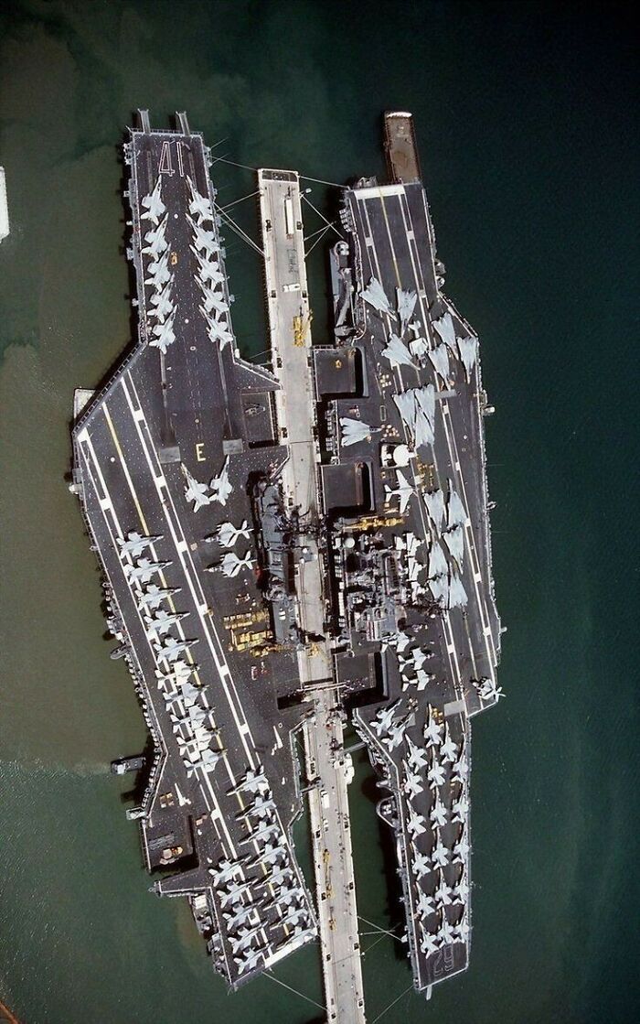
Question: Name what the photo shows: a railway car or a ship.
ship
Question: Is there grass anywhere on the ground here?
No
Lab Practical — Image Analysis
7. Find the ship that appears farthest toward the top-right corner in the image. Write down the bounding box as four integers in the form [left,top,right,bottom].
[384,111,423,187]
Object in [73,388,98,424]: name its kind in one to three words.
ship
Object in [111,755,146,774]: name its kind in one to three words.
boat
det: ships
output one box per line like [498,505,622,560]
[0,167,12,240]
[73,388,98,424]
[384,111,423,187]
[313,175,507,998]
[68,107,324,994]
